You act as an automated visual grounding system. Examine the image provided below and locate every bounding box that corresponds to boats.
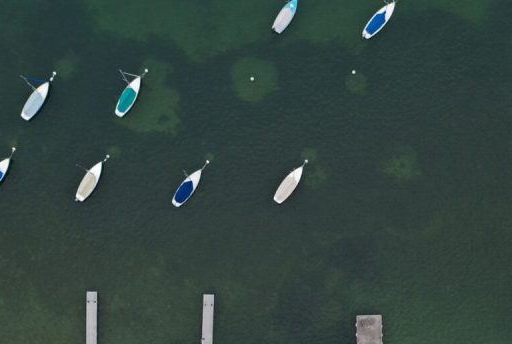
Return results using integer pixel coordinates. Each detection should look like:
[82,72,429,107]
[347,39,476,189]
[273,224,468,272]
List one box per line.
[361,0,395,41]
[274,0,298,35]
[116,71,145,118]
[76,159,106,203]
[21,74,54,122]
[172,163,207,208]
[274,162,306,205]
[0,151,13,183]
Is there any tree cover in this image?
No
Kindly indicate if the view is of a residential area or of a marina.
marina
